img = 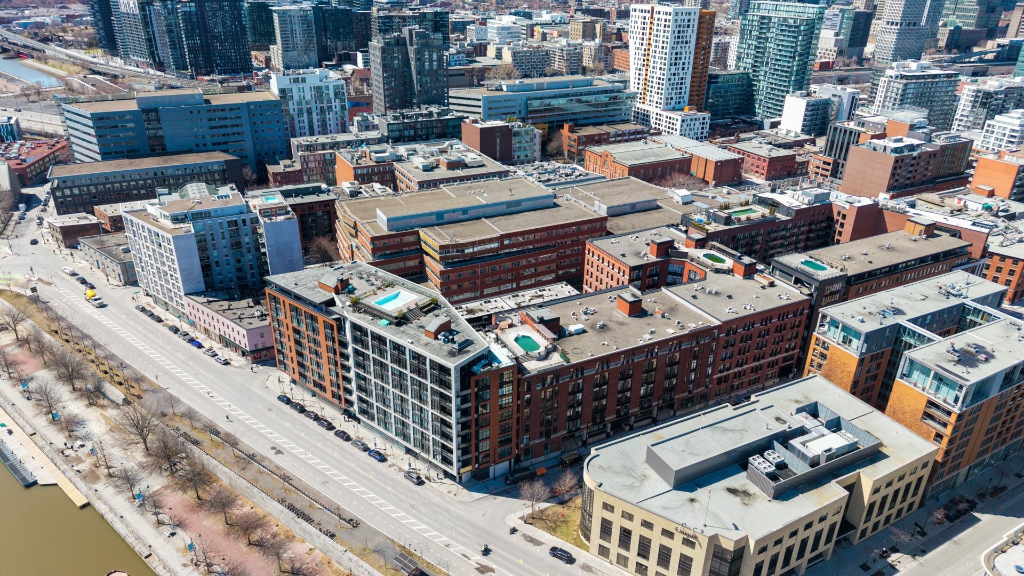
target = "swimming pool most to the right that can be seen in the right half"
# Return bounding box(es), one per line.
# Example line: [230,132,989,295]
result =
[798,260,830,272]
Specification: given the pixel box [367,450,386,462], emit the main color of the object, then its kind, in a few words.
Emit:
blue vehicle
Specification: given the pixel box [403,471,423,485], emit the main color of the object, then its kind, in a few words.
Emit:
gray car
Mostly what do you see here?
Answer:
buildings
